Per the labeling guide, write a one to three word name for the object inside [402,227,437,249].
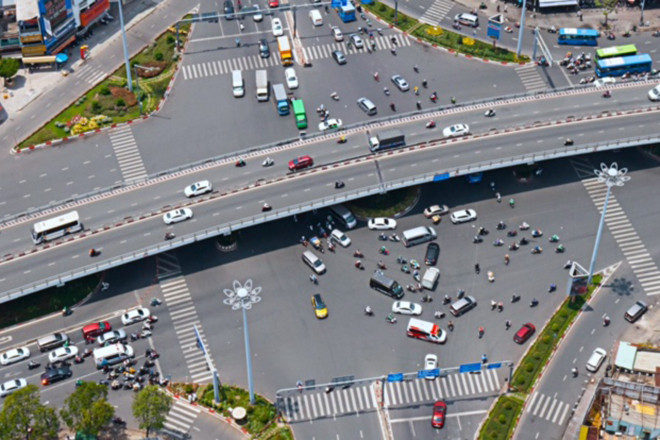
vehicle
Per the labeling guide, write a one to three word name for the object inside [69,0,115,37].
building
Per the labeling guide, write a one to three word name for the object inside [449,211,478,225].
car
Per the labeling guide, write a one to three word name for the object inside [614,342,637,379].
building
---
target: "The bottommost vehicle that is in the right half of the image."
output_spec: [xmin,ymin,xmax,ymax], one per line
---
[432,402,447,429]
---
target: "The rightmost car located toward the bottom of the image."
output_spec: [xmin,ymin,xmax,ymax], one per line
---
[623,301,649,323]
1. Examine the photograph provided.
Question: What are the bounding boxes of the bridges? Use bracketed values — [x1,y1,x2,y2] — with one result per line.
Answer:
[0,75,660,305]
